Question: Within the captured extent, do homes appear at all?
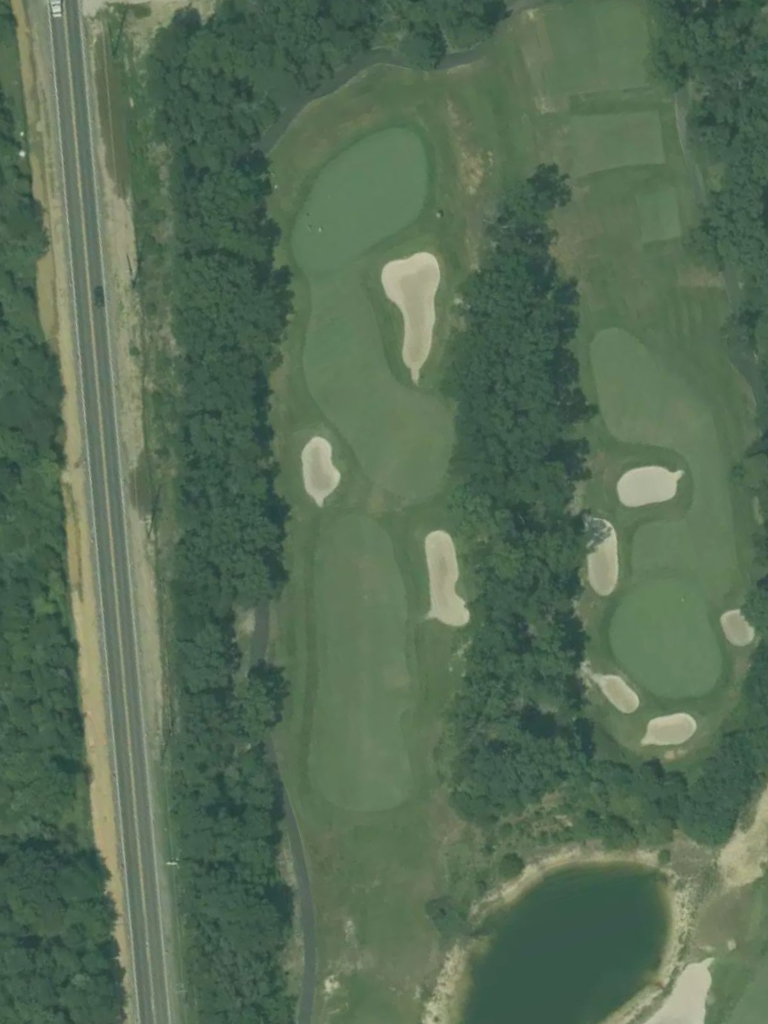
No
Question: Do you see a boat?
No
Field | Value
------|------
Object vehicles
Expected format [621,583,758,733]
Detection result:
[51,0,62,19]
[94,287,105,309]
